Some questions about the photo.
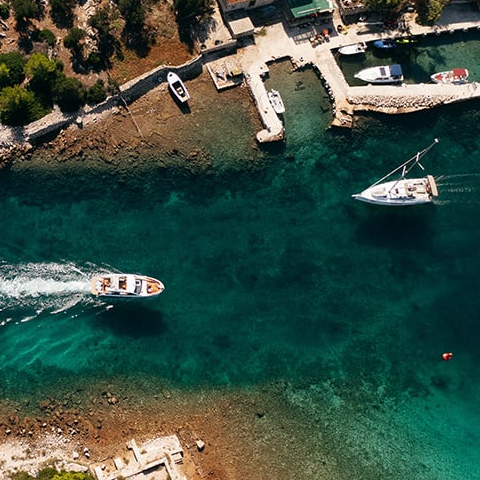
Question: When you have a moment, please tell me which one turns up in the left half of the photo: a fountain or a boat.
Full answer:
There is a boat in the left half of the photo.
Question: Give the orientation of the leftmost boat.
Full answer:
What the image shows is the leftmost boat lying horizontally.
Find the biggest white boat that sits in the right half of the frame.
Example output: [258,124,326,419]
[354,141,445,206]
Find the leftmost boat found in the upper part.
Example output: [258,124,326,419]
[170,72,190,103]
